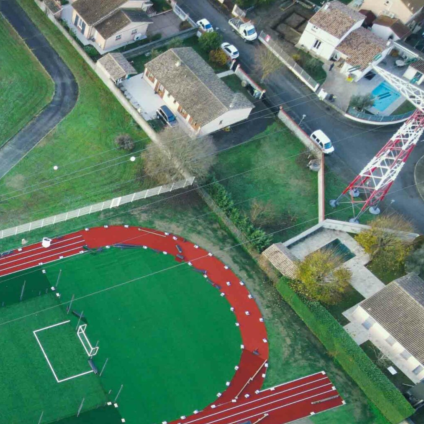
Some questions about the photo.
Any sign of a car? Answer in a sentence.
Yes, a car can be made out from above.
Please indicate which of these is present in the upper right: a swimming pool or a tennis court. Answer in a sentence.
What appears in the upper right is a swimming pool.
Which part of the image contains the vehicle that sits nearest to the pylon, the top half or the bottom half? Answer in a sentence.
The vehicle that sits nearest to the pylon is in the top half of the image.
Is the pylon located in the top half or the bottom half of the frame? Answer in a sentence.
The top half of the photo is where the pylon is.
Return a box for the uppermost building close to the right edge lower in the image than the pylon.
[352,273,424,384]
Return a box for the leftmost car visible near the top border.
[193,14,216,34]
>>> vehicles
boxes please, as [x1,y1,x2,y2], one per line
[156,101,179,127]
[307,125,338,155]
[193,14,216,34]
[218,41,243,61]
[226,18,259,40]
